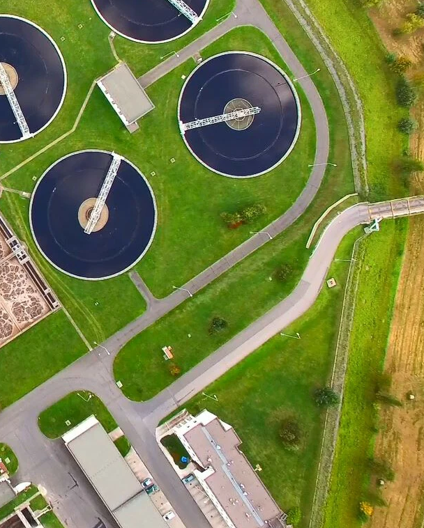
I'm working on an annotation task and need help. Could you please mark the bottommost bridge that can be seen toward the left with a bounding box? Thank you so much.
[84,153,123,233]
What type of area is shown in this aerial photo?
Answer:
industrial area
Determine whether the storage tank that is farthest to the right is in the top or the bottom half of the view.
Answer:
top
